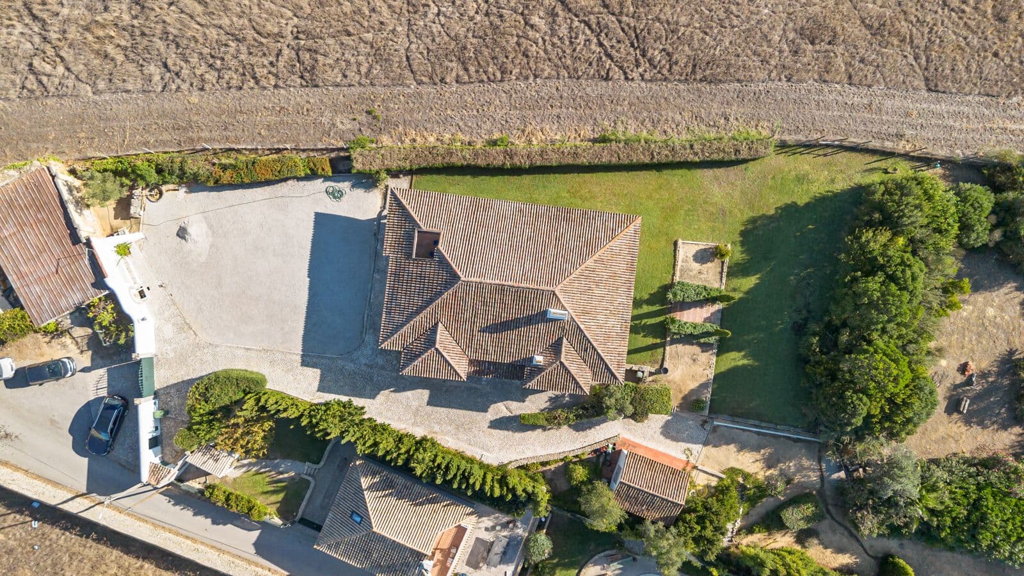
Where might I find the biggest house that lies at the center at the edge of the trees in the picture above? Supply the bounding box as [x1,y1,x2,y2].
[373,186,643,396]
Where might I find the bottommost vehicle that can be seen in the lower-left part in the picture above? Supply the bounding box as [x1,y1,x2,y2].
[88,396,132,457]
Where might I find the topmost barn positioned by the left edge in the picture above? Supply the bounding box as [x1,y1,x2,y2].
[0,167,114,330]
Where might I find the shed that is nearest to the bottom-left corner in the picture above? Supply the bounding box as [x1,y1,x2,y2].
[147,454,191,486]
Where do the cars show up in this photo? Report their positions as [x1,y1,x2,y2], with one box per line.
[24,356,81,385]
[0,354,18,382]
[88,396,132,457]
